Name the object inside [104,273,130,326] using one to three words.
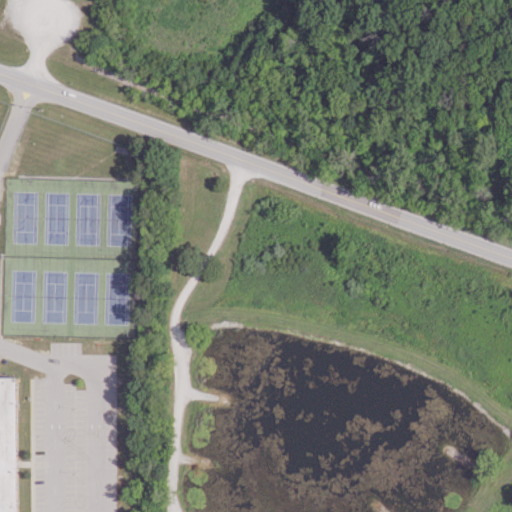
tennis court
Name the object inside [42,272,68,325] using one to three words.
tennis court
